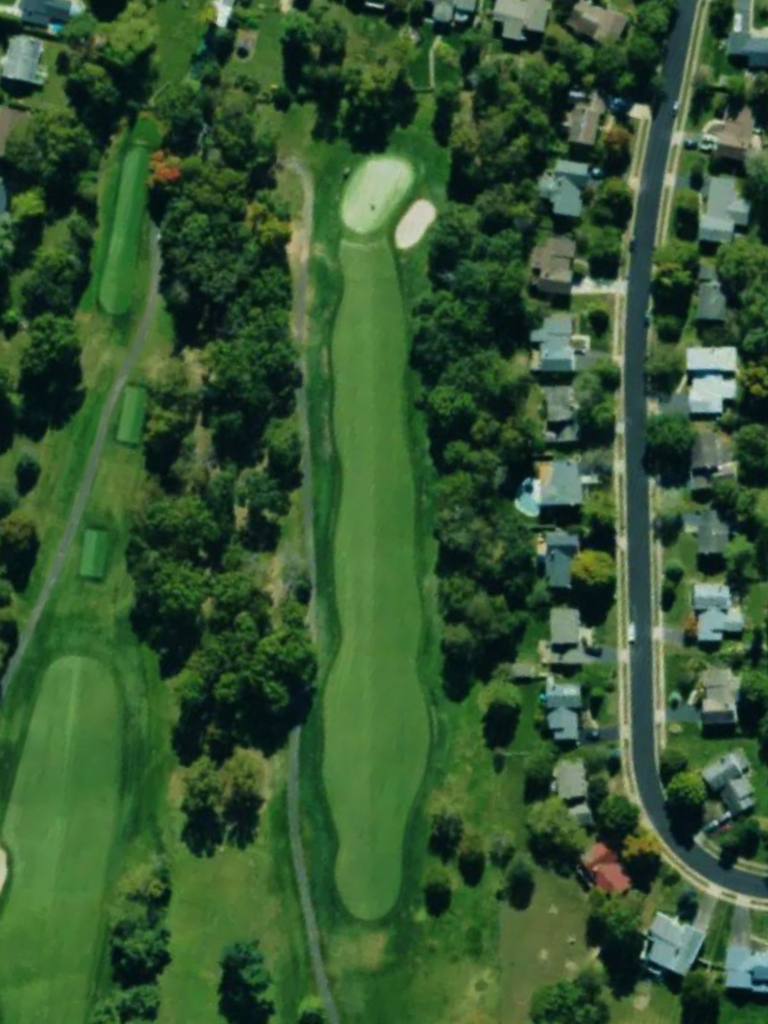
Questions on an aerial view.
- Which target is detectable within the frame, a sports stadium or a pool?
pool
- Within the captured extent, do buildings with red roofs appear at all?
Yes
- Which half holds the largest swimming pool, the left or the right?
right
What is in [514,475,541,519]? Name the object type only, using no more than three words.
swimming pool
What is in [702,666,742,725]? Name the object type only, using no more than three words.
house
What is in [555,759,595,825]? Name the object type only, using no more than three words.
house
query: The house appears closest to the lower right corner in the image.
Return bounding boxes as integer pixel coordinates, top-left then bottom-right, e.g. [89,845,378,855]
[725,946,768,993]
